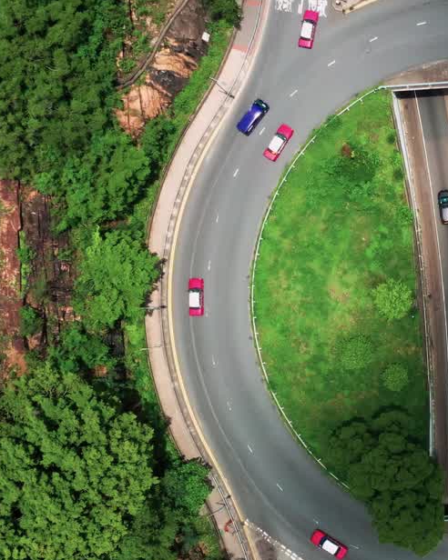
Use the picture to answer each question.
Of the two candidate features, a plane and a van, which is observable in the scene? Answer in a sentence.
Visible in the photo is a van.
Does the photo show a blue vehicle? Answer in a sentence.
Yes, I can see a blue vehicle in this picture.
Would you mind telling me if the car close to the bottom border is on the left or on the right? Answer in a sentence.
The car close to the bottom border appears in the right half of the scene.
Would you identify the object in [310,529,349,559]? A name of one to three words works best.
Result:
car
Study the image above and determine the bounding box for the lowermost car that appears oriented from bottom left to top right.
[264,123,294,163]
